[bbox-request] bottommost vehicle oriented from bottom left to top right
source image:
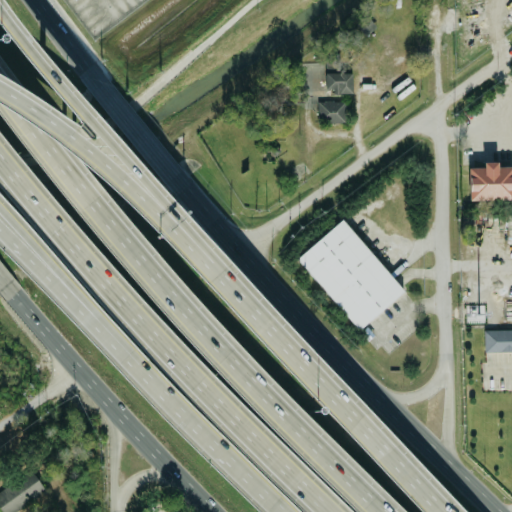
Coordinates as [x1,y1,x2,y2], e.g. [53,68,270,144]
[392,263,409,278]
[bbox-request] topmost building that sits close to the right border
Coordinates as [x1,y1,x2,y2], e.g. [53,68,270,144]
[469,163,512,202]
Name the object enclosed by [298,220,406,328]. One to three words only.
building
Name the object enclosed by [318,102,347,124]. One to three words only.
house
